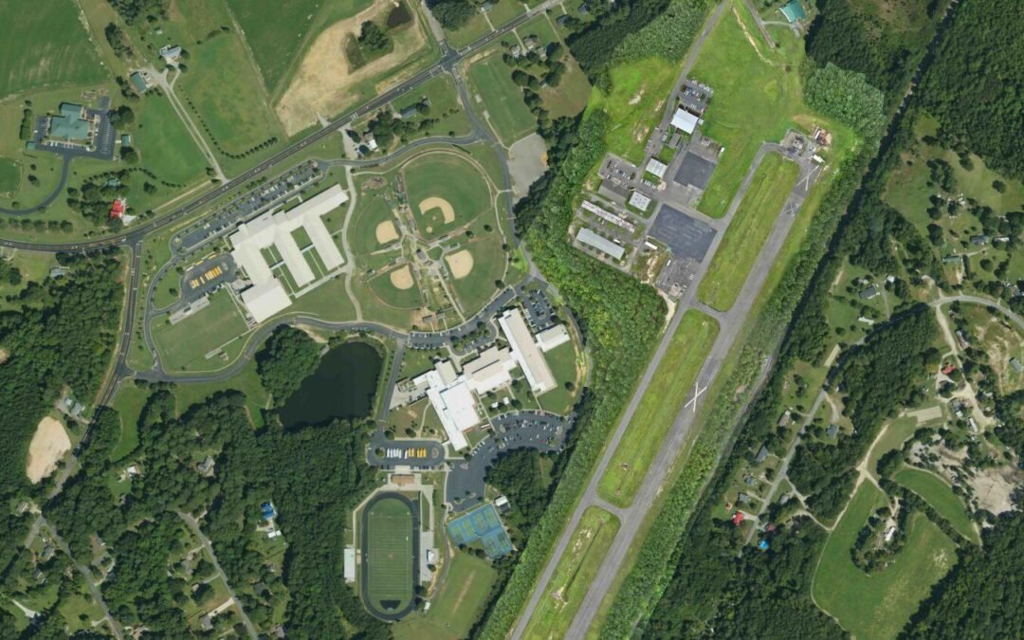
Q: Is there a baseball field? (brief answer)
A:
Yes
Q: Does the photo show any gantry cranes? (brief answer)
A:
No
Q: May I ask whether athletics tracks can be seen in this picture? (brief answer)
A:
Yes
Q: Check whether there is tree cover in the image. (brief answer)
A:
Yes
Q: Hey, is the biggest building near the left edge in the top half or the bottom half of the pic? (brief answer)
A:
top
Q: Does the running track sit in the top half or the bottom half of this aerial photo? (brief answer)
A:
bottom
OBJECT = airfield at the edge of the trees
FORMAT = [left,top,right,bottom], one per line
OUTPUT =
[508,129,826,640]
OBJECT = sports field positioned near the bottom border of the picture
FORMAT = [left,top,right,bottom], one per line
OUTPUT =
[368,498,413,614]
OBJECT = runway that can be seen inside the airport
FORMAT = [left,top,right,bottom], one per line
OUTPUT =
[563,138,825,640]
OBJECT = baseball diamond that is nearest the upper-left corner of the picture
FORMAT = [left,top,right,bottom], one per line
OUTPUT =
[351,196,402,254]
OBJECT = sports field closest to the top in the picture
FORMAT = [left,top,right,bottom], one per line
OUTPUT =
[475,47,526,145]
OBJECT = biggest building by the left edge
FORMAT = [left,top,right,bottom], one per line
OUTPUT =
[50,103,100,140]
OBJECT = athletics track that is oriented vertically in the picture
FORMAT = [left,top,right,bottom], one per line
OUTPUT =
[361,491,420,621]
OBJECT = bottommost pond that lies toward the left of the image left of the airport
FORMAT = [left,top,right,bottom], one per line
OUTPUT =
[279,341,383,424]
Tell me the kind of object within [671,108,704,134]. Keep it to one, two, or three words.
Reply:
hangar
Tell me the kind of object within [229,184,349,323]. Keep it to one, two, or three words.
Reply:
building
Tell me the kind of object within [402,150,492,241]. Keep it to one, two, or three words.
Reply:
baseball field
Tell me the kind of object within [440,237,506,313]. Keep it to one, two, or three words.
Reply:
baseball field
